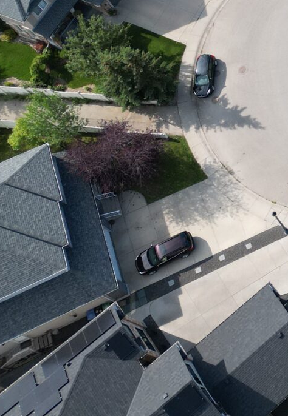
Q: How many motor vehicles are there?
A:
2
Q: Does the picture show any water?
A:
No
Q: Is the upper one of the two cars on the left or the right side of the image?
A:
right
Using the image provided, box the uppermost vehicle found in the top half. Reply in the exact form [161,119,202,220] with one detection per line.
[189,53,215,98]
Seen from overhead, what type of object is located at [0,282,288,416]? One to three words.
house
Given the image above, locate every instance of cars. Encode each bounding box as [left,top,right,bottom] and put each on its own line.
[134,235,195,281]
[189,53,215,98]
